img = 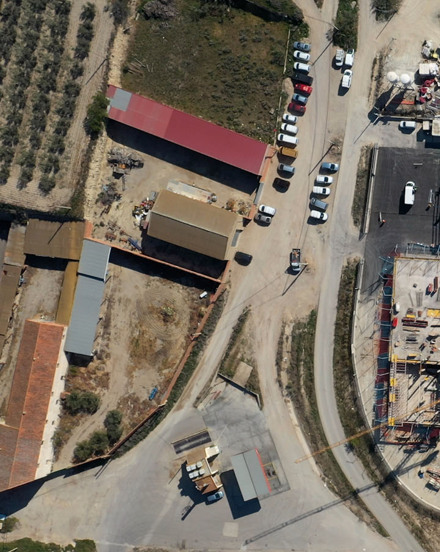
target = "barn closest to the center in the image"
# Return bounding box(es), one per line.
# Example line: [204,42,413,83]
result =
[148,190,247,260]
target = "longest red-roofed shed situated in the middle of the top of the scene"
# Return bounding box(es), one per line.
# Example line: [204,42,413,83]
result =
[107,86,276,178]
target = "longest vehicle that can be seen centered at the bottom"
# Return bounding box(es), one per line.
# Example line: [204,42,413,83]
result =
[205,489,226,502]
